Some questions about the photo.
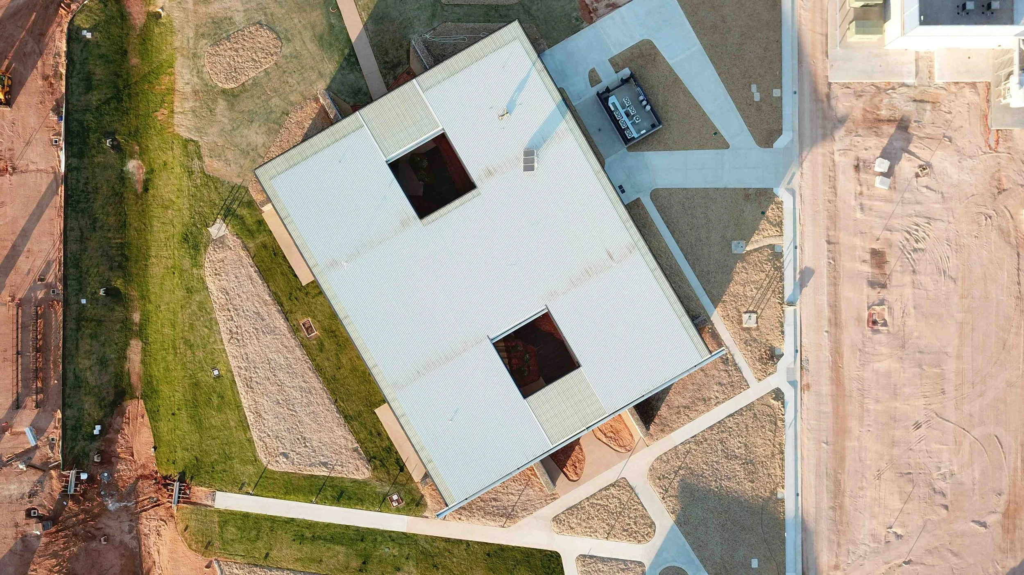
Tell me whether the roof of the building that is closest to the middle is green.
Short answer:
No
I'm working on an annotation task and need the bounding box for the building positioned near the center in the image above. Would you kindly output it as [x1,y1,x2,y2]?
[254,17,729,516]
